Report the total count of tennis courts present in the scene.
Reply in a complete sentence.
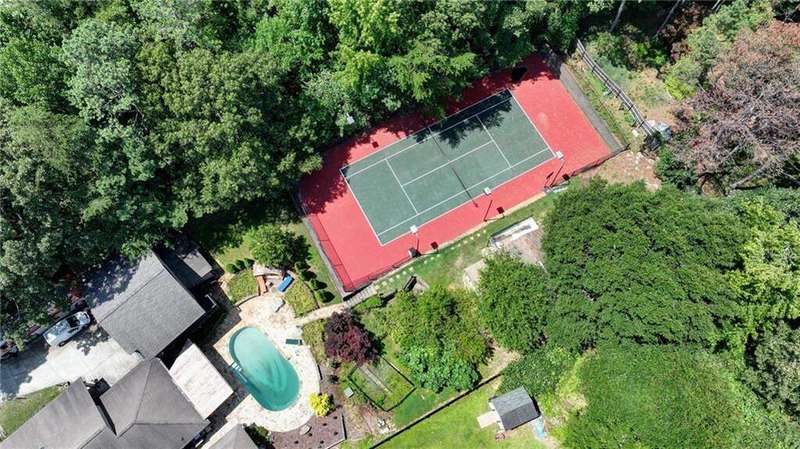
The count comes to 1 tennis court.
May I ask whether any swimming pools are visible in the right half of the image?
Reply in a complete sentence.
No, no swimming pool can be made out in the right half of the image.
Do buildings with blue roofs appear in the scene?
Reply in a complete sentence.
No, I can see no building with a blue roof in this picture.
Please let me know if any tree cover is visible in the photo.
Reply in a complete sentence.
Yes, tree cover can be seen from above here.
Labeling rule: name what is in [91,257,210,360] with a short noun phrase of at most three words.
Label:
building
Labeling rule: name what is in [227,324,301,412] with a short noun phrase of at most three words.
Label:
swimming pool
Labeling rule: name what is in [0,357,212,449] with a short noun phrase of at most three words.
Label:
house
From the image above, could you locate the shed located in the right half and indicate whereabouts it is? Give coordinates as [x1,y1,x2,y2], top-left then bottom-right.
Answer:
[491,387,540,430]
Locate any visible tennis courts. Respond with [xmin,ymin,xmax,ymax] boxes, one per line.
[280,41,618,292]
